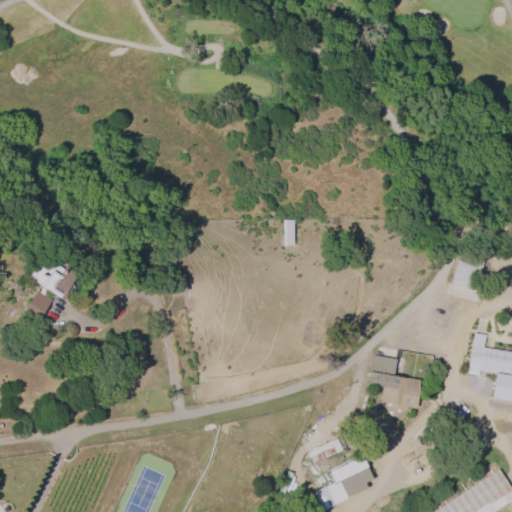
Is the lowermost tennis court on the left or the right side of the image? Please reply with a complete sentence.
The lowermost tennis court appears in the left half of the scene.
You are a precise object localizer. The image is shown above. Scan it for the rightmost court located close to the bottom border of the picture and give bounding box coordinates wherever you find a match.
[117,456,173,512]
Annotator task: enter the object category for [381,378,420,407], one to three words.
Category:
building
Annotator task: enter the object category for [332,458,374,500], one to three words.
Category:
barn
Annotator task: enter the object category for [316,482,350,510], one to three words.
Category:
building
